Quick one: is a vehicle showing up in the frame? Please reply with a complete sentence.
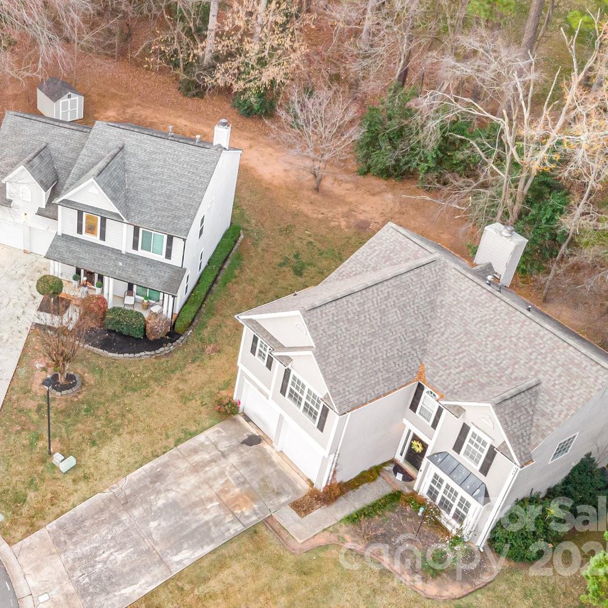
No, no vehicle can be seen from above.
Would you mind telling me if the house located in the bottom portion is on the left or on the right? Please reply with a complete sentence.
The house located in the bottom portion is on the right side of the image.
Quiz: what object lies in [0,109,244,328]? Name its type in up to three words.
house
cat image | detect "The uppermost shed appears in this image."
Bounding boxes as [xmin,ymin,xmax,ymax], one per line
[41,77,86,122]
